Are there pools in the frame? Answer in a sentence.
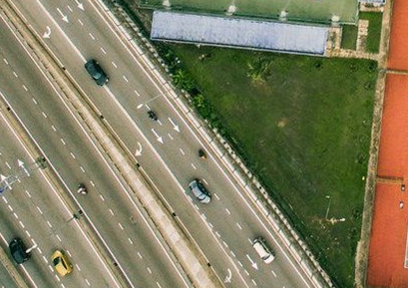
No, this view has no pool in it.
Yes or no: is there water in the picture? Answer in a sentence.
No, there's no water in this view.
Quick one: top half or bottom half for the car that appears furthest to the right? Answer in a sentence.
You can find the car that appears furthest to the right in the bottom half.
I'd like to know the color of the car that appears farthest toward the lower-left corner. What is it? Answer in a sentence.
From above, the car that appears farthest toward the lower-left corner appears black.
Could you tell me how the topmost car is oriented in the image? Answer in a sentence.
The topmost car has been laid out on a diagonal relative to the frame.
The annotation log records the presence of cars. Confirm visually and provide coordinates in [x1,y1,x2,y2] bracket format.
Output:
[250,238,274,265]
[186,177,211,205]
[52,250,71,278]
[7,236,27,267]
[83,59,108,87]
